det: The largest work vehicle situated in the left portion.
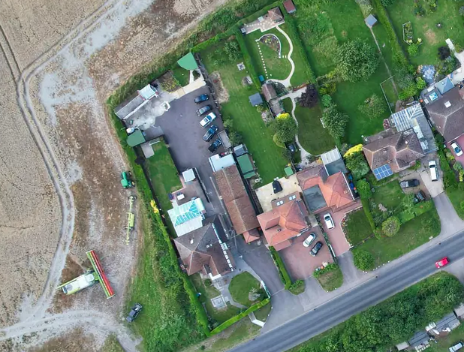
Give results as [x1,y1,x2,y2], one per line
[53,244,120,296]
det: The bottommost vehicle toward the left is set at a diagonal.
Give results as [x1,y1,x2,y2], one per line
[122,303,143,324]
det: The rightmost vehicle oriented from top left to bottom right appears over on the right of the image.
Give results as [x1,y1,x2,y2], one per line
[450,140,464,157]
